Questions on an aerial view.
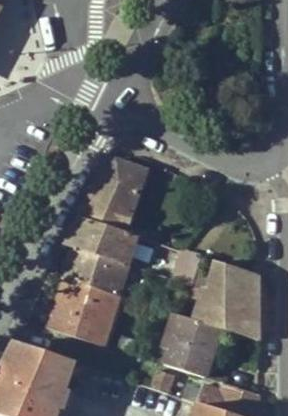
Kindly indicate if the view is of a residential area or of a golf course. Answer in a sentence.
This looks like a residential area.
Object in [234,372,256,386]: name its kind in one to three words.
car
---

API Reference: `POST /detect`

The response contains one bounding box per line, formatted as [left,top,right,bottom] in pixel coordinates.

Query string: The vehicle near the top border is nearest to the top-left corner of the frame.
[39,16,55,50]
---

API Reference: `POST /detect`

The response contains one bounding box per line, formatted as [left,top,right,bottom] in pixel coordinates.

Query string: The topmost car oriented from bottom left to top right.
[115,86,136,108]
